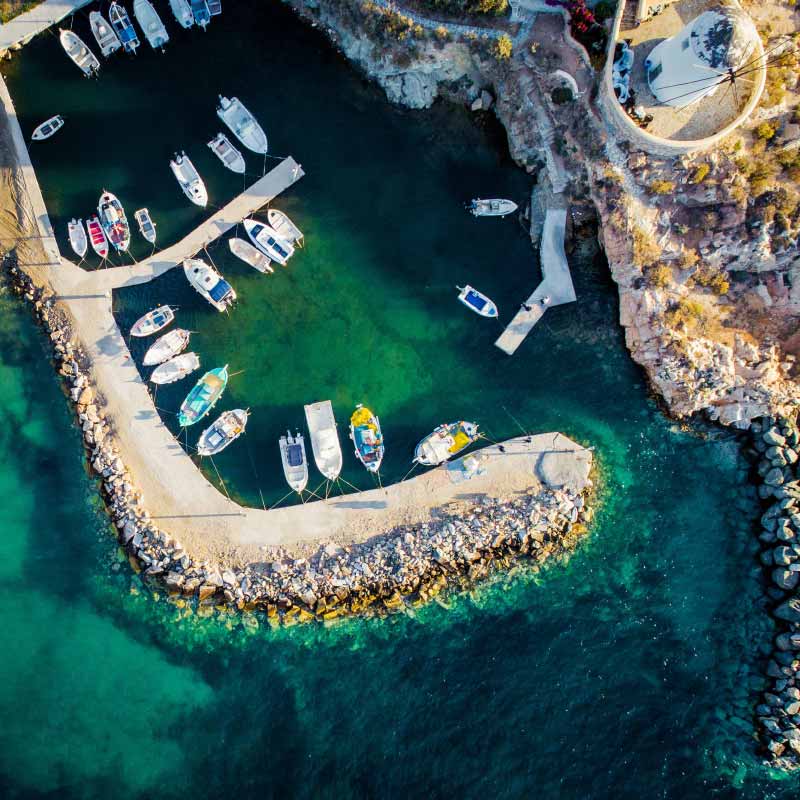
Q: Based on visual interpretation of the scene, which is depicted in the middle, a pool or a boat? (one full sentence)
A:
It is a boat that can be seen in the middle.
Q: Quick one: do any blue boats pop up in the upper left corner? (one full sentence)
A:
Yes, a blue boat can be seen in the upper left corner.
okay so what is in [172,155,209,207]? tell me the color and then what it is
white boat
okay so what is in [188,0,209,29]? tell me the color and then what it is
blue boat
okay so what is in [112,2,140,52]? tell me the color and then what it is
blue boat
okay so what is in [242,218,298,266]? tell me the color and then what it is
white boat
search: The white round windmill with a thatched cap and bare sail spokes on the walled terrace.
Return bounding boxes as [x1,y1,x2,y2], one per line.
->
[640,6,800,123]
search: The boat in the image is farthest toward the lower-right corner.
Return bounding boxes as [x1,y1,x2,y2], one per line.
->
[413,427,480,465]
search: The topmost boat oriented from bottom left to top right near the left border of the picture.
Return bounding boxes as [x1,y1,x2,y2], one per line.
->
[31,114,66,140]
